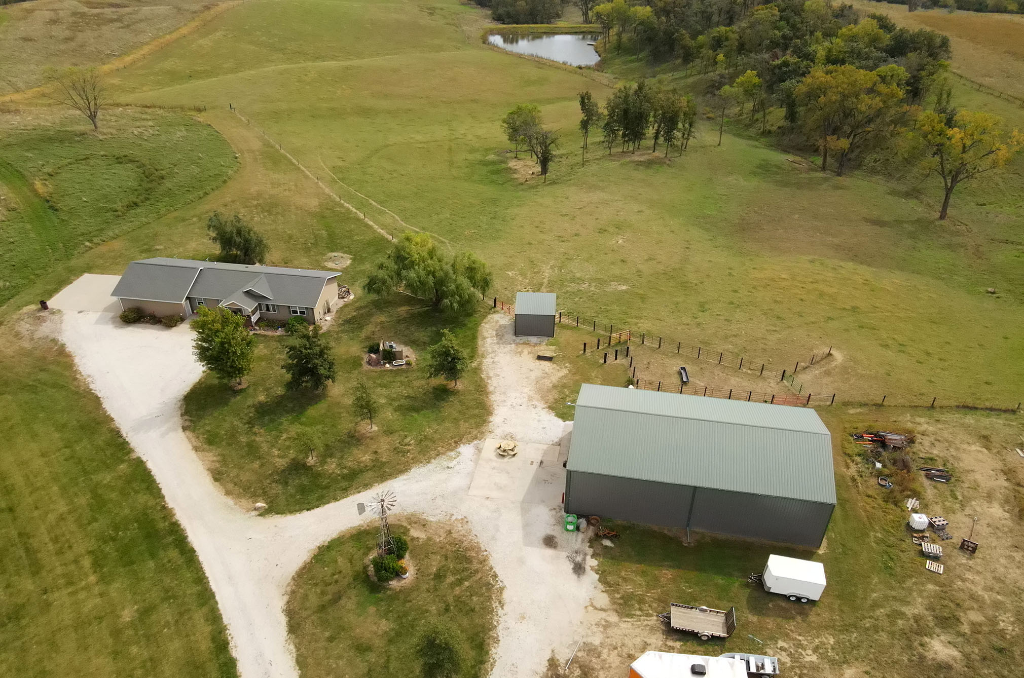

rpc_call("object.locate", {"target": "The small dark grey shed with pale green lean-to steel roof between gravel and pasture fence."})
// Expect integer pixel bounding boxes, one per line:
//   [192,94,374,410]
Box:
[515,291,556,337]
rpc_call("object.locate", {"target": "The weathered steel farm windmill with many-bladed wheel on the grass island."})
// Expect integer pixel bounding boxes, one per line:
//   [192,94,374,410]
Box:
[352,495,397,560]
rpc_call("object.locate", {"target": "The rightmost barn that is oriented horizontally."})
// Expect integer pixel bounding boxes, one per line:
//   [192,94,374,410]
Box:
[563,383,836,548]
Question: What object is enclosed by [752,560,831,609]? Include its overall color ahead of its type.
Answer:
white trailer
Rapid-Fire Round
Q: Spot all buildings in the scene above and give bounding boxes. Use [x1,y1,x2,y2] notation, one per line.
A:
[111,257,343,328]
[515,291,556,337]
[563,383,836,548]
